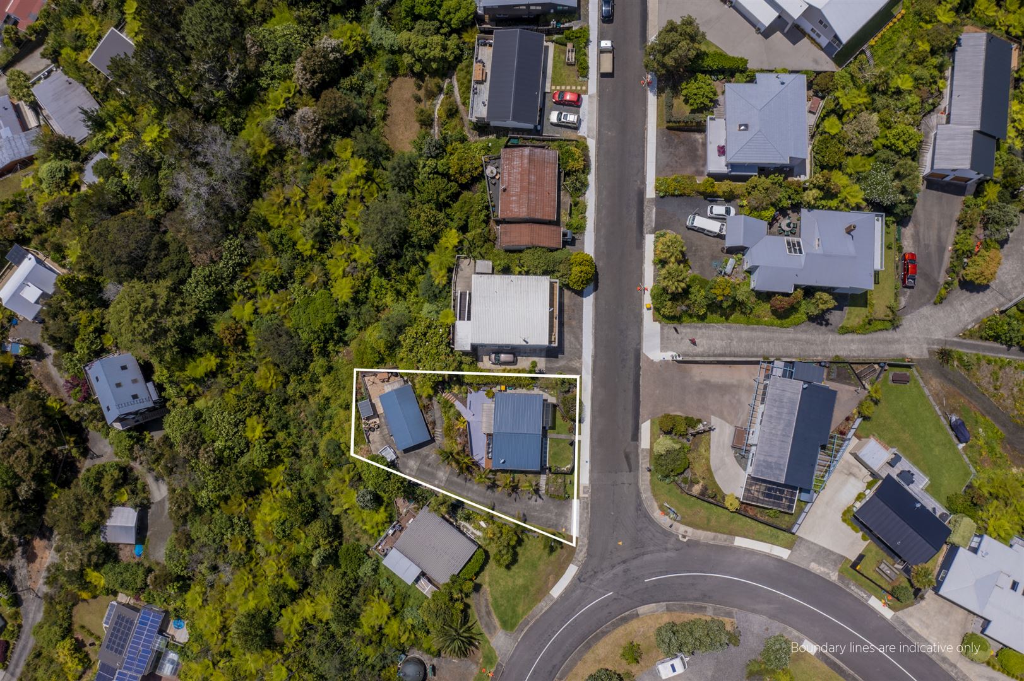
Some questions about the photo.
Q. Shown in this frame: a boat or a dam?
boat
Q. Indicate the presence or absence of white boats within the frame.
No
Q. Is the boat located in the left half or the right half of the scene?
right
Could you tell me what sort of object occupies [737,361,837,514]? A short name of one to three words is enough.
house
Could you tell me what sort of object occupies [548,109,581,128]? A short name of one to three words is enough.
car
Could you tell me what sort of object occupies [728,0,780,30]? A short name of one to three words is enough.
building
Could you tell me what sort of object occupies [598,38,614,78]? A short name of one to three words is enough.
vehicle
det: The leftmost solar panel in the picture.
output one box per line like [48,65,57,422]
[5,243,30,267]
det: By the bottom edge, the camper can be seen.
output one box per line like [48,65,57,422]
[655,655,689,681]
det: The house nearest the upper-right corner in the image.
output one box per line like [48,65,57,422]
[935,25,1021,140]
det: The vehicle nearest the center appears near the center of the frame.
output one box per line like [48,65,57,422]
[489,351,517,366]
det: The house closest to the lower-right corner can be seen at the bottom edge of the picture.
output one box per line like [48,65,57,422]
[931,533,1024,654]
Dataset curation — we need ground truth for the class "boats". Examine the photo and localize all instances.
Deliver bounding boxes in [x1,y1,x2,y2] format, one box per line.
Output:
[948,408,973,447]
